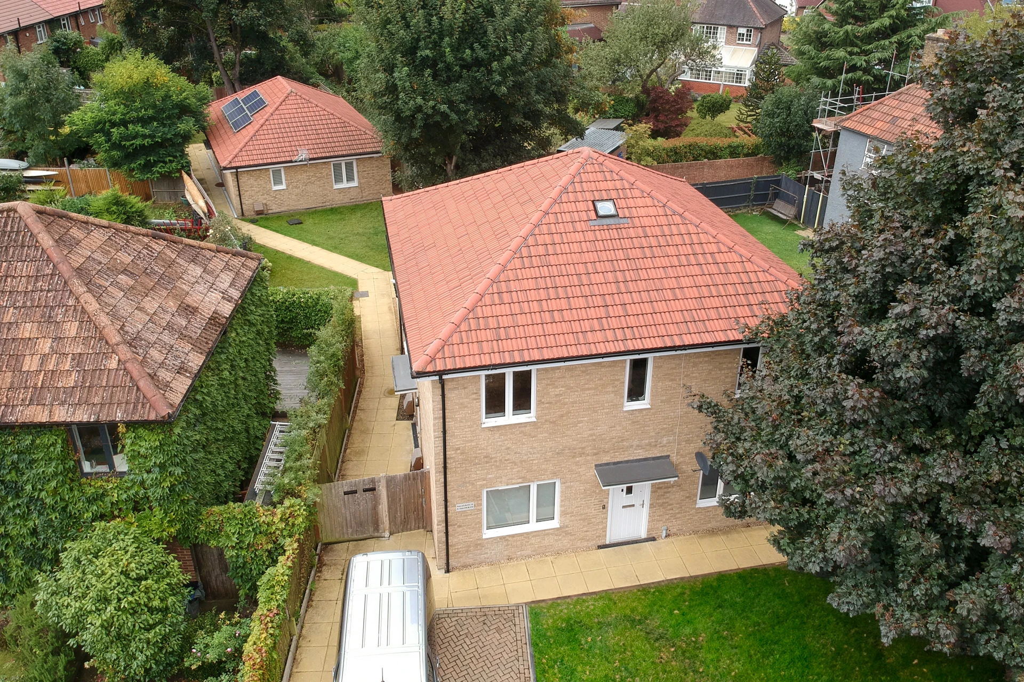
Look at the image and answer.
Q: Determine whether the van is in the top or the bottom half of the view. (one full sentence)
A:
Seen from above, the van lies in the bottom half of the view.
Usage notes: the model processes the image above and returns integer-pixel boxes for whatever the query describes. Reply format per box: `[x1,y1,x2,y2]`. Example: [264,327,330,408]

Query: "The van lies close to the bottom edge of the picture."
[335,551,441,682]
